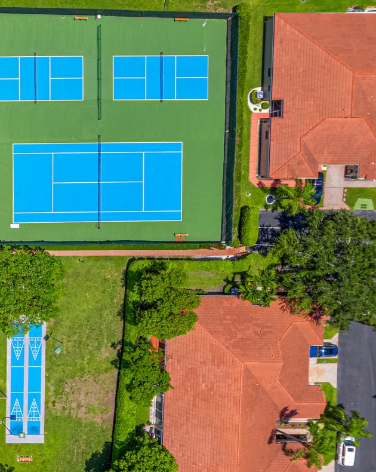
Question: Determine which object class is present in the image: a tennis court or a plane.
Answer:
tennis court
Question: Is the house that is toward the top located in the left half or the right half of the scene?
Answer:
right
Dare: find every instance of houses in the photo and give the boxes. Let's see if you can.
[148,296,328,472]
[252,11,376,181]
